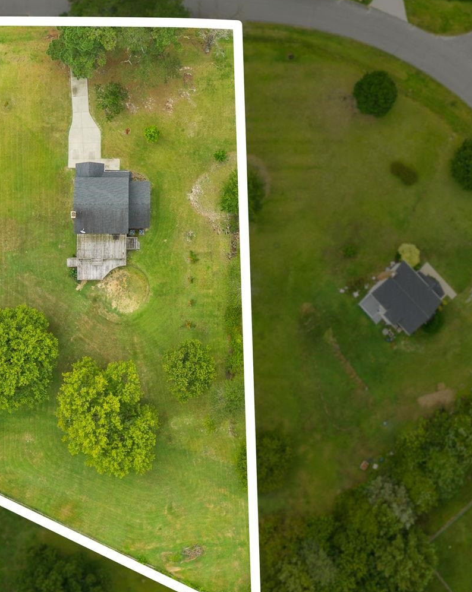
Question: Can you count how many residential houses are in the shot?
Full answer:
The count of residential houses comes to 2.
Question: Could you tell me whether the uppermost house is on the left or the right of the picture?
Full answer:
It is on the left.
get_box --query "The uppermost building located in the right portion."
[358,260,445,335]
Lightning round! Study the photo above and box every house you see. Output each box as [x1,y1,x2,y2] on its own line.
[358,260,445,335]
[71,160,151,234]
